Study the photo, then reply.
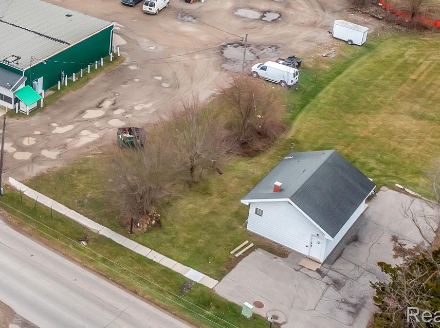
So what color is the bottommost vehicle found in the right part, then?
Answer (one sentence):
The bottommost vehicle found in the right part looks white in the image.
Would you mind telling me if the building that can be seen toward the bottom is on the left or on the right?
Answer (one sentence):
The building that can be seen toward the bottom sits on the right side.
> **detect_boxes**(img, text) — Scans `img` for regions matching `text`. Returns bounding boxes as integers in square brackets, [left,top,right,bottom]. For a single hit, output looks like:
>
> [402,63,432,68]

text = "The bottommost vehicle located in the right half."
[252,62,300,86]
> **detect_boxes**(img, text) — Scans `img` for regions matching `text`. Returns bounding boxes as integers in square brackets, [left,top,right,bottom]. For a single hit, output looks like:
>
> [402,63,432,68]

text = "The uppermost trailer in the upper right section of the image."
[328,16,372,40]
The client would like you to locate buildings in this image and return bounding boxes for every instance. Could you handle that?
[0,0,117,110]
[239,143,378,266]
